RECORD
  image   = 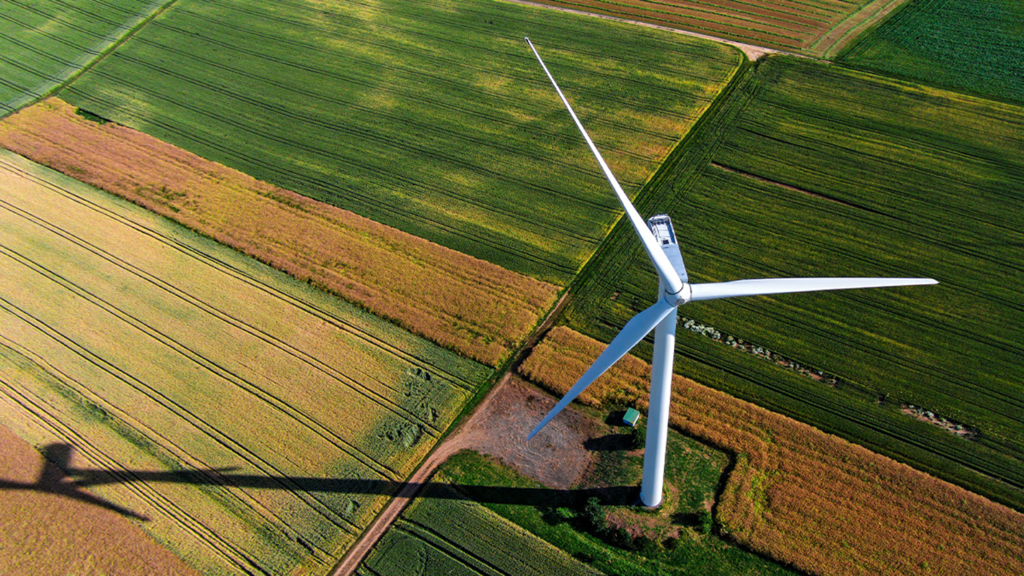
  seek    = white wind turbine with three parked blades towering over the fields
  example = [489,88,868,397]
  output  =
[527,40,939,510]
